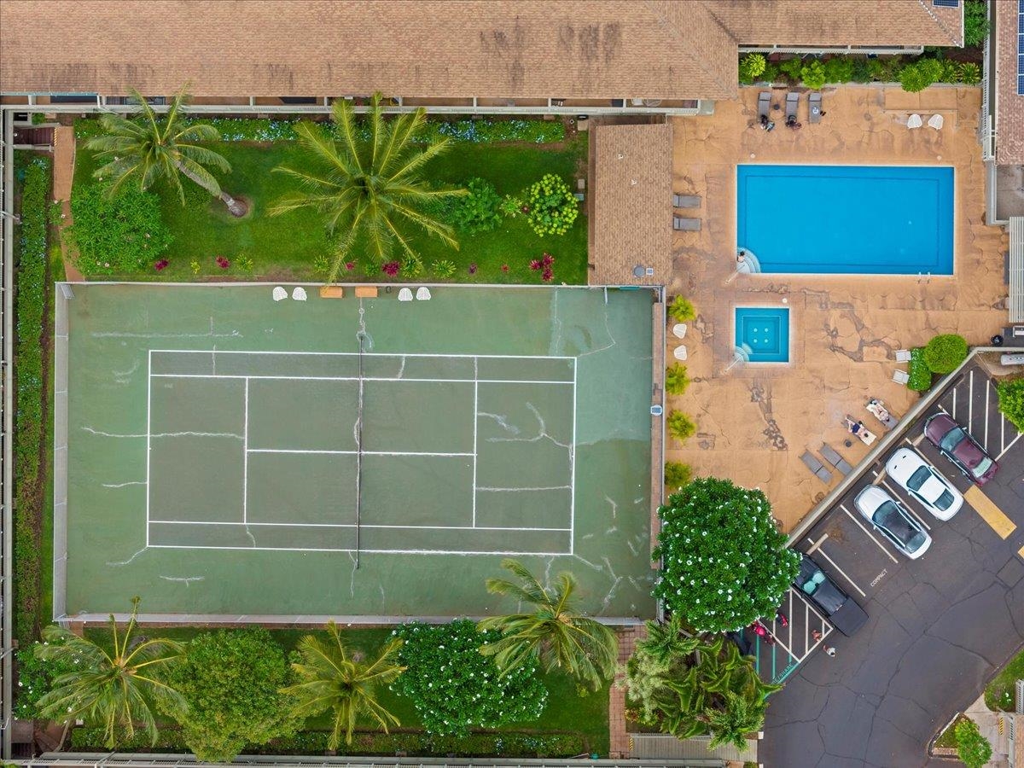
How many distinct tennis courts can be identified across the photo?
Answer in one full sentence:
The picture shows 1 tennis court.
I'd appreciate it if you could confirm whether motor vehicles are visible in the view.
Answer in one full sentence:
Yes, there is a motor vehicle in the image.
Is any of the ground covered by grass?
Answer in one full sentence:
Yes, some grass is visible.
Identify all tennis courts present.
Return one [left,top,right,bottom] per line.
[67,286,658,619]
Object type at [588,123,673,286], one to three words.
building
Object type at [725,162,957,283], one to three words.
swimming pool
